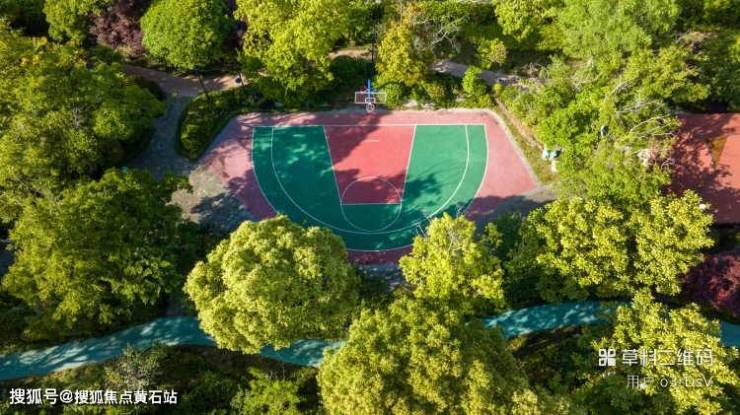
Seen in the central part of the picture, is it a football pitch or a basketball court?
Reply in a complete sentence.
What appears in the central part of the picture is a basketball court.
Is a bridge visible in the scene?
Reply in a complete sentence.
No, there is no bridge in the image.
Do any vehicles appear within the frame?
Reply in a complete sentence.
No, I can see no vehicle in this picture.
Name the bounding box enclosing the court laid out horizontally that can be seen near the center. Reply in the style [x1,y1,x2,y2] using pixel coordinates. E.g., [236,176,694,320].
[206,107,542,264]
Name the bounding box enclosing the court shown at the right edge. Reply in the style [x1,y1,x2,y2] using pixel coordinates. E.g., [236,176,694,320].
[634,112,740,224]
